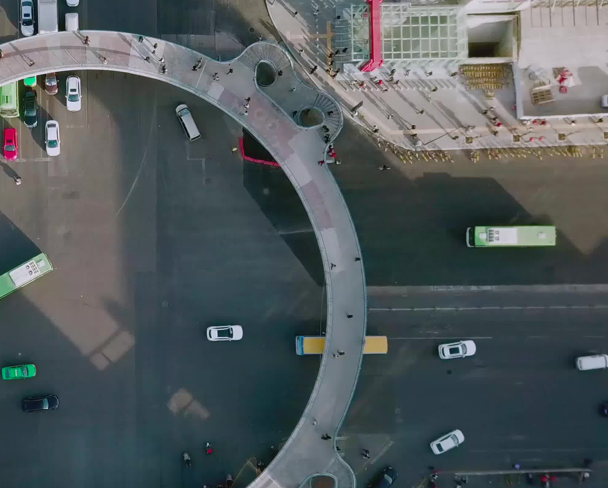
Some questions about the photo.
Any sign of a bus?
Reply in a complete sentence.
Yes, the picture does show a bus.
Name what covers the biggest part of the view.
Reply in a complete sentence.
The largest share of the image is taken up by paved ground.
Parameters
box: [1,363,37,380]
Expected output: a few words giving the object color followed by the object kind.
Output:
green car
